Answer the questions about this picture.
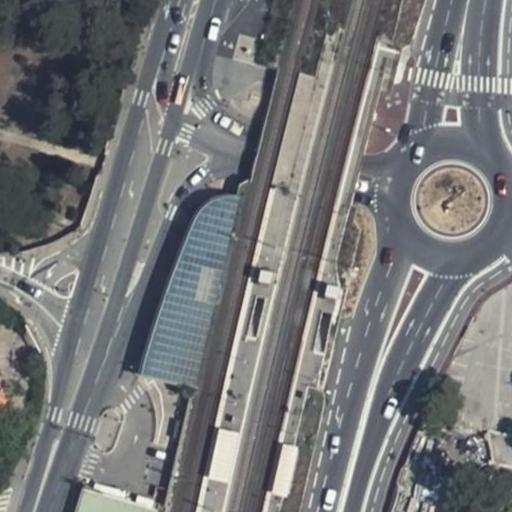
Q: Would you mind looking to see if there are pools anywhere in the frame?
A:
No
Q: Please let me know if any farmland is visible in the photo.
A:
No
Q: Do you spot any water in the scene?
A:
No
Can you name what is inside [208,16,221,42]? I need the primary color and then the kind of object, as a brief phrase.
white vehicle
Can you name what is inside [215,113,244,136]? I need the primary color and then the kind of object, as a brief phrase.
white truck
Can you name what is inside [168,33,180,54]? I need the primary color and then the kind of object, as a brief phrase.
white vehicle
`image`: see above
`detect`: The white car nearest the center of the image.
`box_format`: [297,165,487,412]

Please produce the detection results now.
[188,168,206,186]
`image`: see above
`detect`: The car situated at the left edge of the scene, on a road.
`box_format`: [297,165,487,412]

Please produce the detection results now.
[16,279,39,297]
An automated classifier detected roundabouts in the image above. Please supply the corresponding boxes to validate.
[379,127,512,273]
